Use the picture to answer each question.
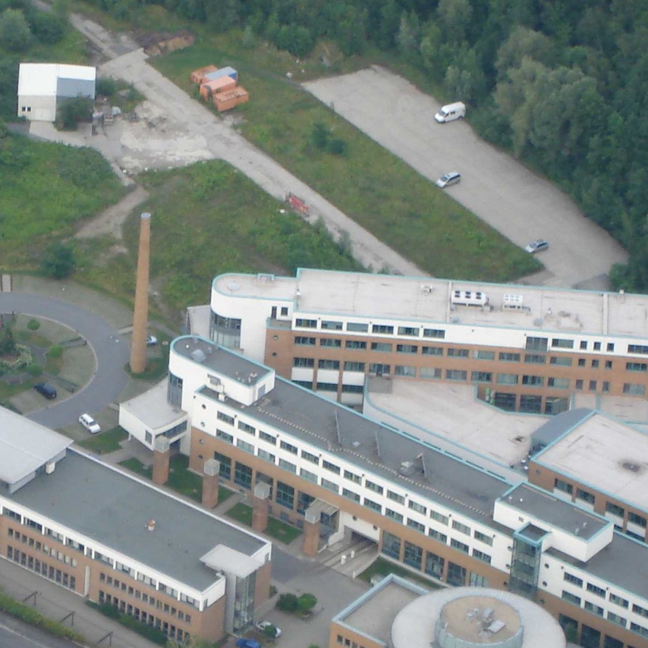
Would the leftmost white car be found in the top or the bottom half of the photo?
bottom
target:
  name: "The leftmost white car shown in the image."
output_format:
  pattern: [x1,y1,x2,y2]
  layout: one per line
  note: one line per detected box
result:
[80,415,100,434]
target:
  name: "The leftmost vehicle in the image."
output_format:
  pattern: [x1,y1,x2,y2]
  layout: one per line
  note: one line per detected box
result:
[34,385,58,400]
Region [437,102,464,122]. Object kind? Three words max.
vehicle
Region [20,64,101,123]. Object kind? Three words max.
shed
